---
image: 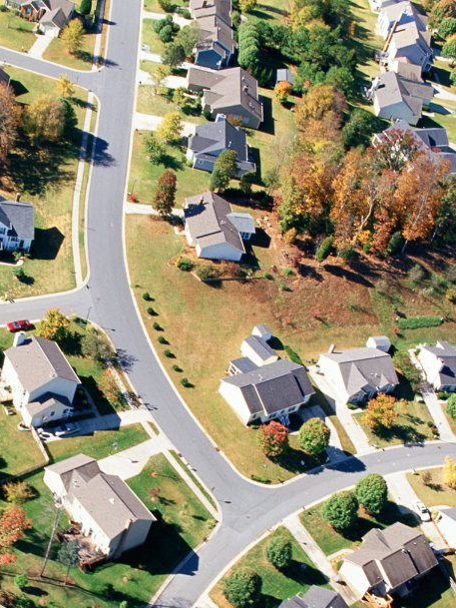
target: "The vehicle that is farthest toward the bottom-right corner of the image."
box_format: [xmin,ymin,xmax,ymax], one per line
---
[414,498,434,519]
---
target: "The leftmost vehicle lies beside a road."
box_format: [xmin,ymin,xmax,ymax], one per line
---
[6,316,34,330]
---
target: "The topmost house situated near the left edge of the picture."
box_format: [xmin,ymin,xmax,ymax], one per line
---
[5,0,72,39]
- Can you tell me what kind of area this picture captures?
residential area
